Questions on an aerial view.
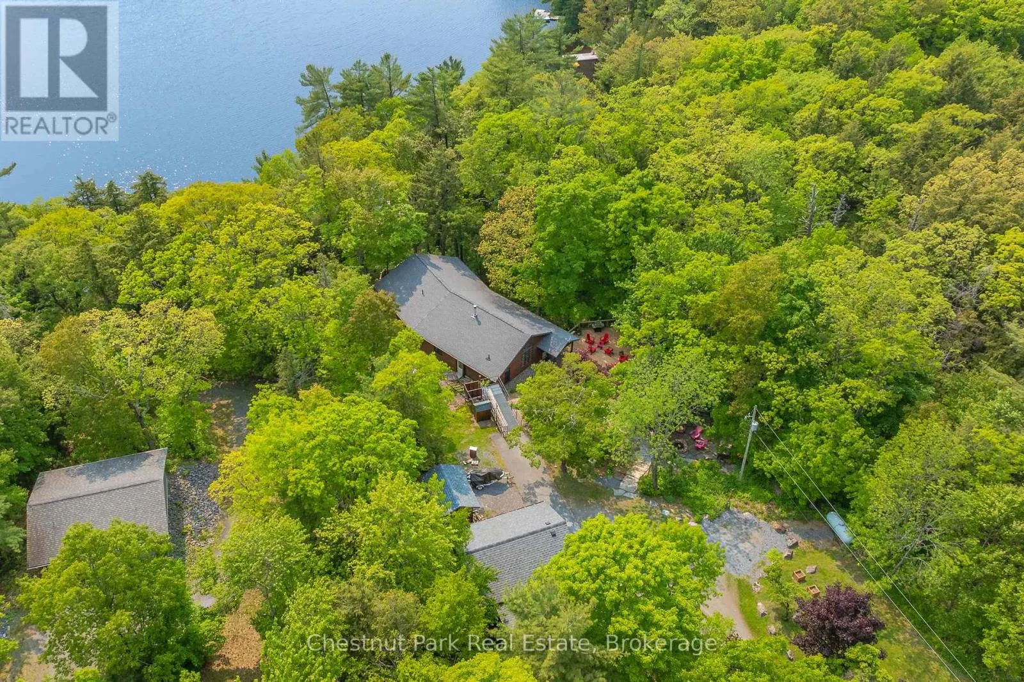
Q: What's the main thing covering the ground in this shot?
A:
trees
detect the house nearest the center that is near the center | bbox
[374,252,583,398]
